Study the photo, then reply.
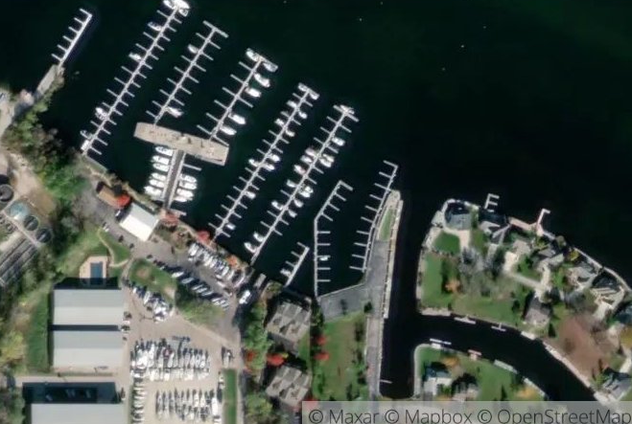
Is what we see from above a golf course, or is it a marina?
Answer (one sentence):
This looks like a marina.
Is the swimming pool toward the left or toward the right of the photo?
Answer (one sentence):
The swimming pool sits on the left side.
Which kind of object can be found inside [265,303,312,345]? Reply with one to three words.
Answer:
house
